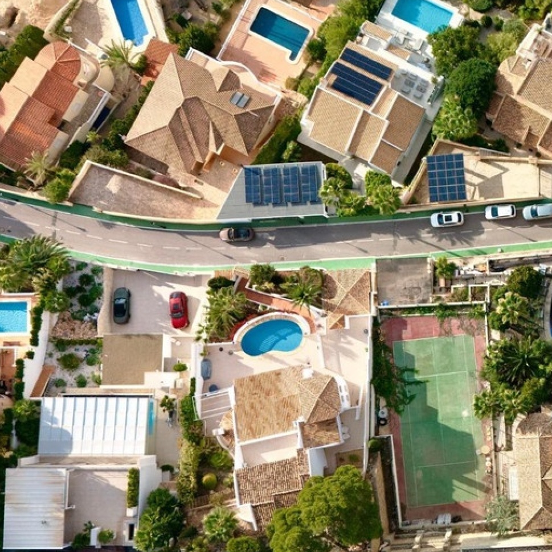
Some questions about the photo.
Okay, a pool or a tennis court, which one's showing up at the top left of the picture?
pool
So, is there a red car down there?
Yes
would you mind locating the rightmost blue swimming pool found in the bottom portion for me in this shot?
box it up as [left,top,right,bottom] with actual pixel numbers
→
[236,315,306,361]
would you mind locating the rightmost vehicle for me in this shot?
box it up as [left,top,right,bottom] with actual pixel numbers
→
[522,202,552,220]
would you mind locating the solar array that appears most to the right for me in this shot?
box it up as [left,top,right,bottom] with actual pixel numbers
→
[426,154,466,202]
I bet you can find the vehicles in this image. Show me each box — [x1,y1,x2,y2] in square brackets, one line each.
[484,202,517,220]
[522,202,552,220]
[169,291,190,329]
[430,209,464,227]
[219,224,255,242]
[112,287,132,325]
